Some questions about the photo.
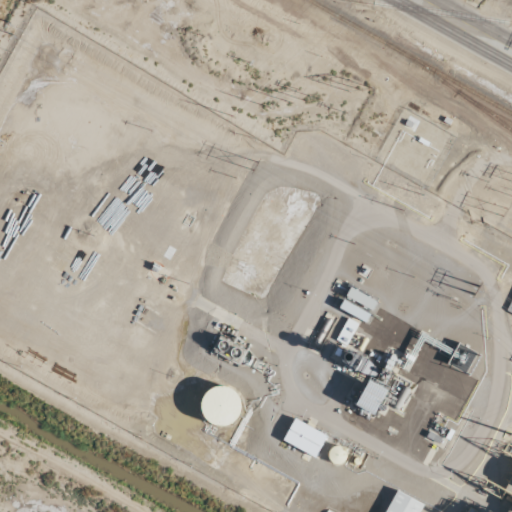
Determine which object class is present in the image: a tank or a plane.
tank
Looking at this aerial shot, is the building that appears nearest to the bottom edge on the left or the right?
right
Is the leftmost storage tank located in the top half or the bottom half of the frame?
bottom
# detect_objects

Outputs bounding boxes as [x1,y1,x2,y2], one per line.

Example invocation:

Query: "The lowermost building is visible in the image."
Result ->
[386,484,428,512]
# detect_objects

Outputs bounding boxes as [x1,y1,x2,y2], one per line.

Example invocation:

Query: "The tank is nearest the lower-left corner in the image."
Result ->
[200,380,250,430]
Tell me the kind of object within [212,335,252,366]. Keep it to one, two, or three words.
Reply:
cooling tower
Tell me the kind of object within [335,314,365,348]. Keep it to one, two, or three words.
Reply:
building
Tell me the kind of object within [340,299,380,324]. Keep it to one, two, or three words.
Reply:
building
